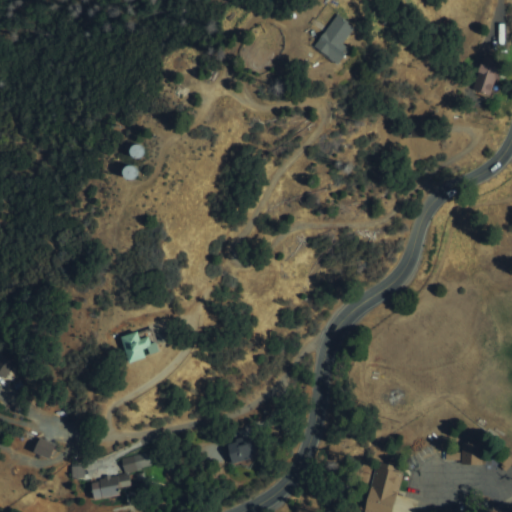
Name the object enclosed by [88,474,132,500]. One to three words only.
house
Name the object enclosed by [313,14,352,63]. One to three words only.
house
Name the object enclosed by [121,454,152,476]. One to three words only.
building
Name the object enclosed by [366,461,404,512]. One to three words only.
building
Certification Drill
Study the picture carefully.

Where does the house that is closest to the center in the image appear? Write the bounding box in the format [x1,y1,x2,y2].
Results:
[121,332,160,363]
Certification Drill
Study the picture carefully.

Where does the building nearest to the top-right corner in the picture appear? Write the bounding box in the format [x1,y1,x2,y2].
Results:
[472,62,499,96]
